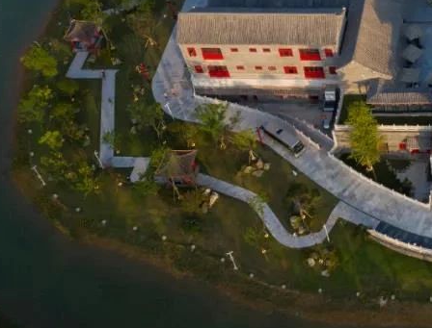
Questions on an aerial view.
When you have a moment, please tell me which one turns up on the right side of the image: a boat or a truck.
truck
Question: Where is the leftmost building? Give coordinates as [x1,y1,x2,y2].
[58,15,110,59]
